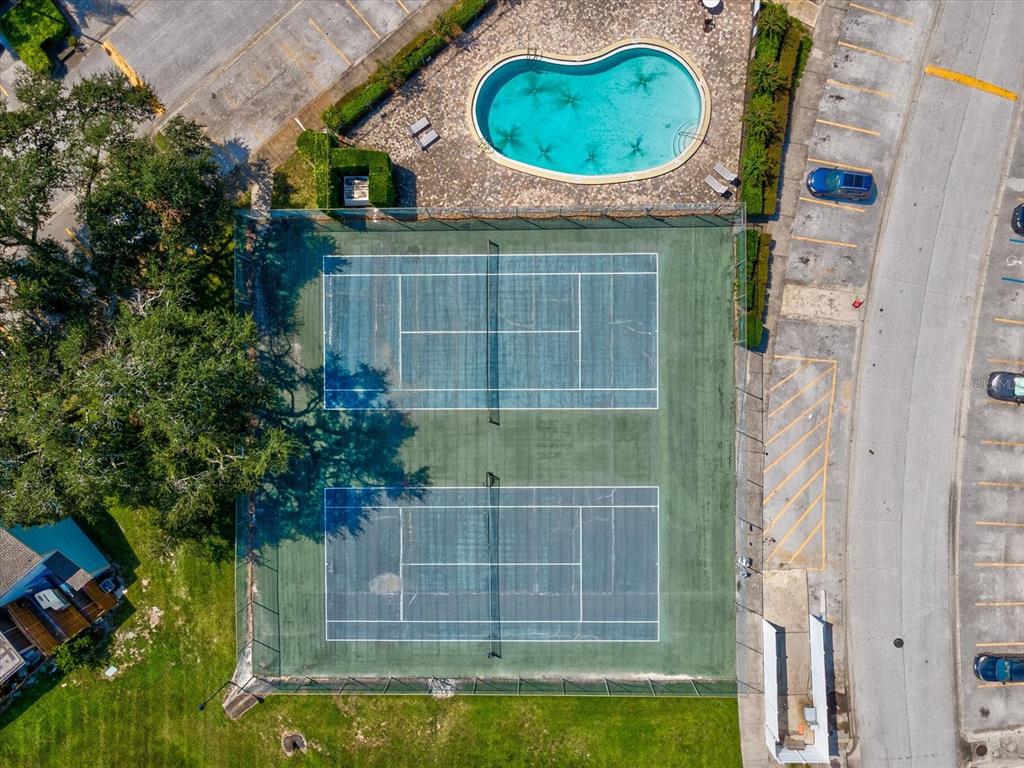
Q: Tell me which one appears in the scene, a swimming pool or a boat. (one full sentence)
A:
It is a swimming pool that can be seen here.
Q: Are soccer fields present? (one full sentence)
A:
No, no soccer field is visible in the scene.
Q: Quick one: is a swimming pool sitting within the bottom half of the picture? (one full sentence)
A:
No, the scene shows no swimming pool within the bottom half of the picture.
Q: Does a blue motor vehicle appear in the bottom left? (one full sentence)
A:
No, no blue motor vehicle can be made out in the bottom left.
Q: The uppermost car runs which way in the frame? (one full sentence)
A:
What the image shows is the uppermost car lying from left to right.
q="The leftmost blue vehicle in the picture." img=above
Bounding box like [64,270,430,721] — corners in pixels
[804,164,874,201]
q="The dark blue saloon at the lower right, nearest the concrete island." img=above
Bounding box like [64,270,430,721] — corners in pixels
[974,655,1024,690]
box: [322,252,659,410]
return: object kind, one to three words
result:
tennis court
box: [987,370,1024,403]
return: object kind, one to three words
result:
car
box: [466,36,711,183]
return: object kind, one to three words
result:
swimming pool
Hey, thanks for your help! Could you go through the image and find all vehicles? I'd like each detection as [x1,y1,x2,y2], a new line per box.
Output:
[974,655,1024,690]
[804,164,874,201]
[1012,206,1024,234]
[987,370,1024,403]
